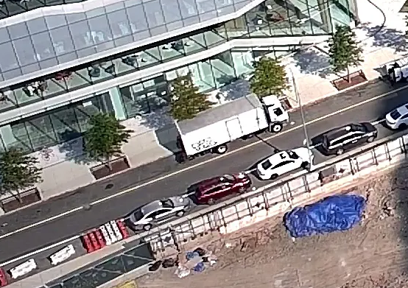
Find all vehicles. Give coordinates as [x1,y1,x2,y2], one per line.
[386,101,408,127]
[127,190,191,226]
[177,87,300,159]
[319,119,379,153]
[189,166,253,203]
[386,56,408,84]
[254,146,314,178]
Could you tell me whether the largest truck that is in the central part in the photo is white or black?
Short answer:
white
